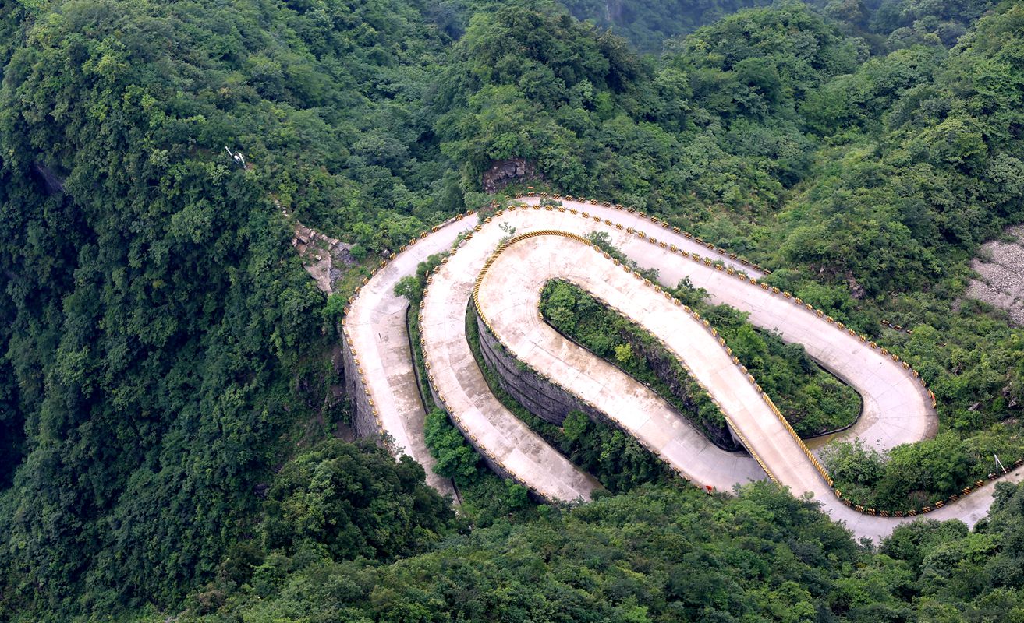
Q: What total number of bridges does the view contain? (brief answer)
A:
1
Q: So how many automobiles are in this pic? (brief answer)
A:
zero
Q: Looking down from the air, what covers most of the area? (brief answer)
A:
trees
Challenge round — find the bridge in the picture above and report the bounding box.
[721,417,789,508]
